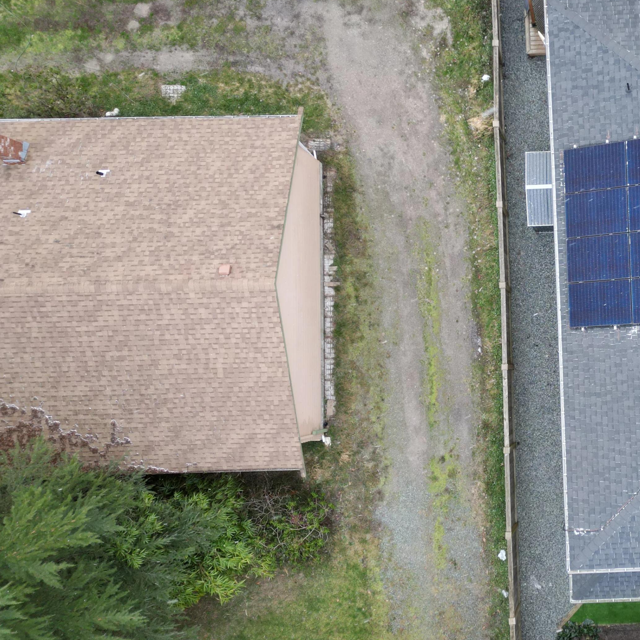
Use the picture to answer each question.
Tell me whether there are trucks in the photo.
No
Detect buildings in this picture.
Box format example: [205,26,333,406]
[0,112,331,481]
[542,0,640,605]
